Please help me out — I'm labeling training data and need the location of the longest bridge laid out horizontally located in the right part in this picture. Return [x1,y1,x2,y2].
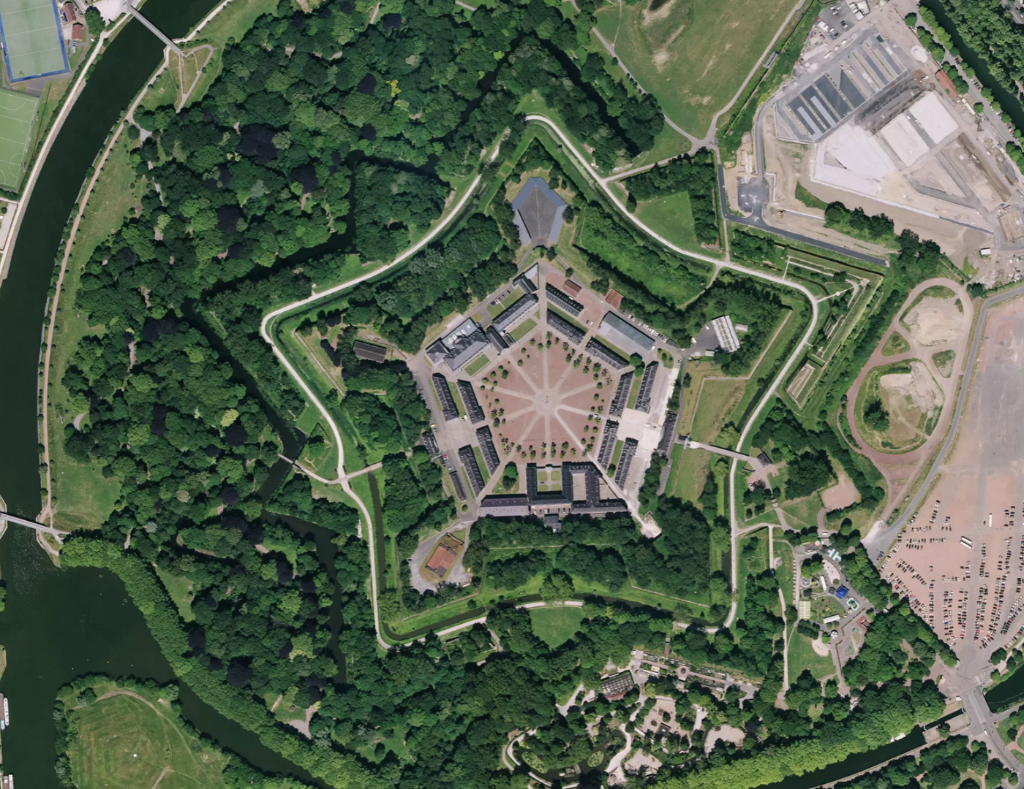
[688,439,760,463]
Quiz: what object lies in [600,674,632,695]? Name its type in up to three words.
building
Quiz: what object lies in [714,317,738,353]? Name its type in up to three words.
hangar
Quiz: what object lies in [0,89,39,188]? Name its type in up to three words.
soccer field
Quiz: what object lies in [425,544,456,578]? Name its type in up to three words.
house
